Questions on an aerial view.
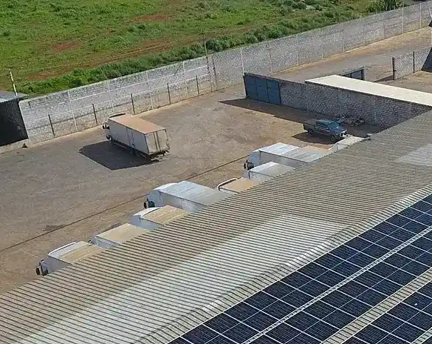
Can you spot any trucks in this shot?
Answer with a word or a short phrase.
Yes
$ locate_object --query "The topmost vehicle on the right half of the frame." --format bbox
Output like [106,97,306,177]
[296,114,344,140]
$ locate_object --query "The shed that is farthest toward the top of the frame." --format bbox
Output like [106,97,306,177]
[307,74,432,107]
